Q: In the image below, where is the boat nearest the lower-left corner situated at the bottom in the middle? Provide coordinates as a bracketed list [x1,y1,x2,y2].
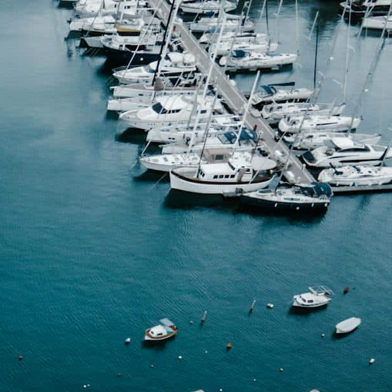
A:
[145,321,179,344]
